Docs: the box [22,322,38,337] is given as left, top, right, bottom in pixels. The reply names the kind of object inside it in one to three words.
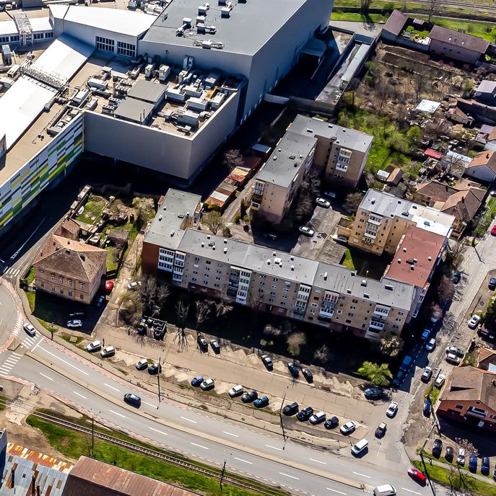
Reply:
car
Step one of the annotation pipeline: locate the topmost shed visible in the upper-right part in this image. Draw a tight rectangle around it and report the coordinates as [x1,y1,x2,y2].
[382,9,409,46]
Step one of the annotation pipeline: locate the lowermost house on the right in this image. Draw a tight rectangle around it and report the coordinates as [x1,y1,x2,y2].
[433,371,496,435]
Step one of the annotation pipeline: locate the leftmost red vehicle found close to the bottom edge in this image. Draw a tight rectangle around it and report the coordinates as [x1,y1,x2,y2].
[407,470,429,485]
